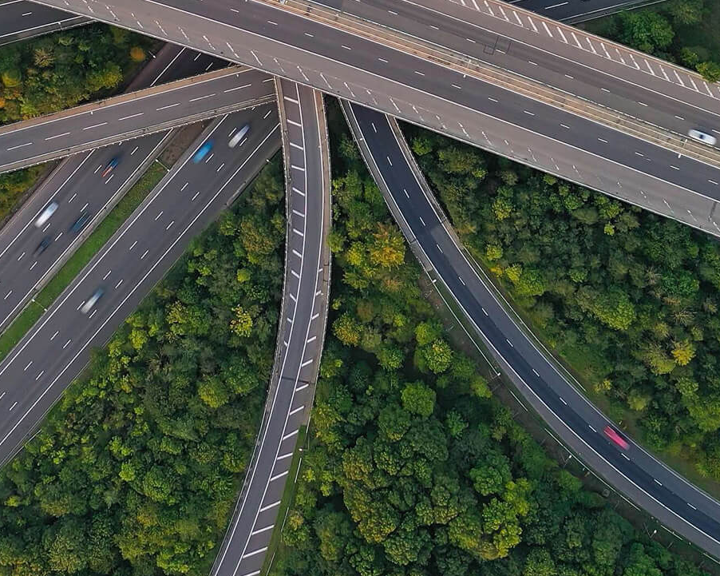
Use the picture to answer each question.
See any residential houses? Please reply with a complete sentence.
No, the frame has no residential house in it.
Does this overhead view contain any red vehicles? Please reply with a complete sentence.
Yes, the frame does contain a red vehicle.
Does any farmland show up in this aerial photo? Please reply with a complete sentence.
No, the picture contains no farmland.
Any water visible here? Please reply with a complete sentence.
No, no water is visible.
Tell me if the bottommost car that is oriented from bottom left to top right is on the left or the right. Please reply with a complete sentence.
The bottommost car that is oriented from bottom left to top right sits on the left side.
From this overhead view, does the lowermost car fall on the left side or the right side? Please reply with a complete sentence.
It is on the right.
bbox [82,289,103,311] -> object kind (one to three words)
car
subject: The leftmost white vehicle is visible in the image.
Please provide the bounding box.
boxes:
[33,203,58,228]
